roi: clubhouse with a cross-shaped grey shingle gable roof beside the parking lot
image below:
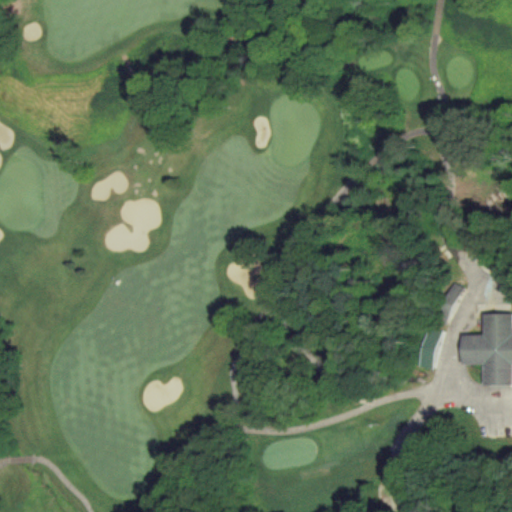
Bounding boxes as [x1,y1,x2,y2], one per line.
[459,312,512,386]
